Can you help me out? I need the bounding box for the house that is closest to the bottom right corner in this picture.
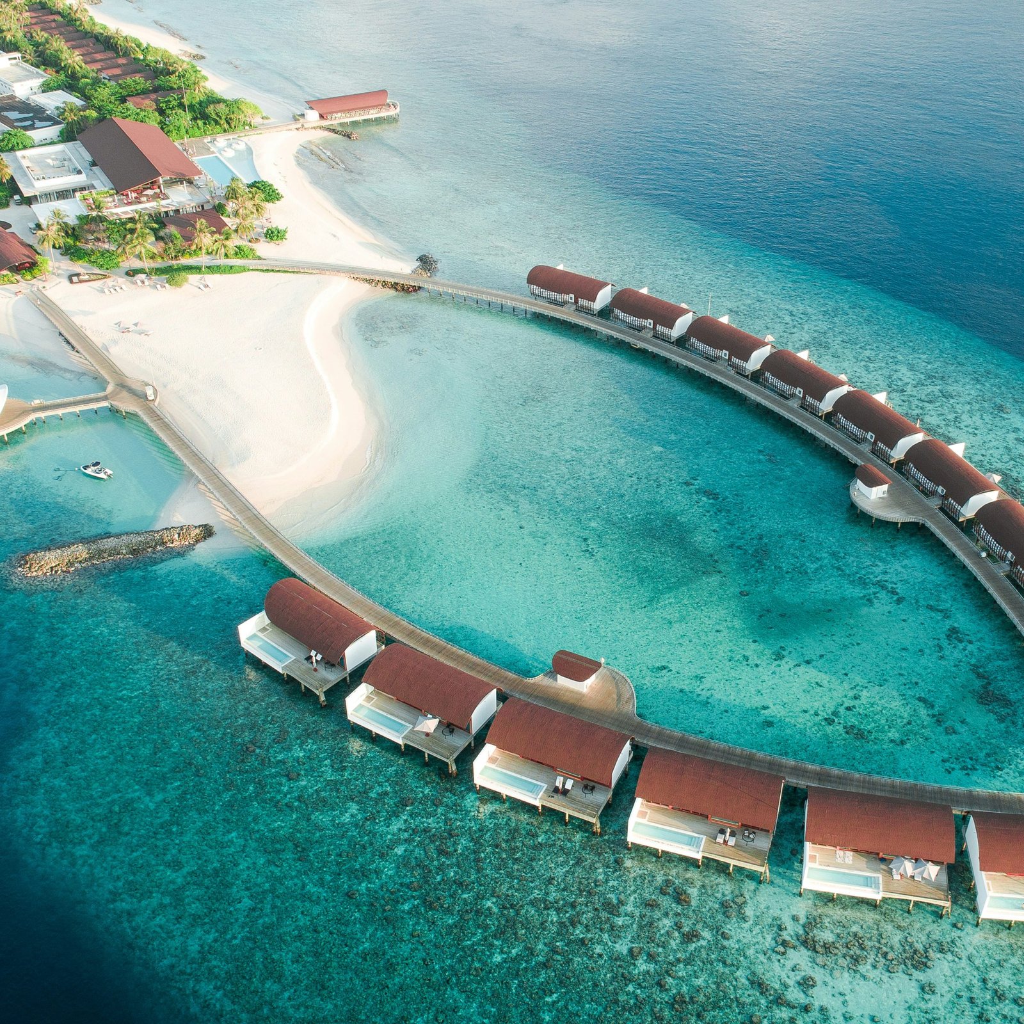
[959,808,1024,928]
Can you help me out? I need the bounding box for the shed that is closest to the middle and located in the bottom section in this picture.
[548,646,597,693]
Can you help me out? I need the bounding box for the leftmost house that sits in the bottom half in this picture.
[239,583,382,717]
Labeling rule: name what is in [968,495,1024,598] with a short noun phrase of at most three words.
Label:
house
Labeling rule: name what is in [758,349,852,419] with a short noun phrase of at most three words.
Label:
house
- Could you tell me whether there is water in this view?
Yes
